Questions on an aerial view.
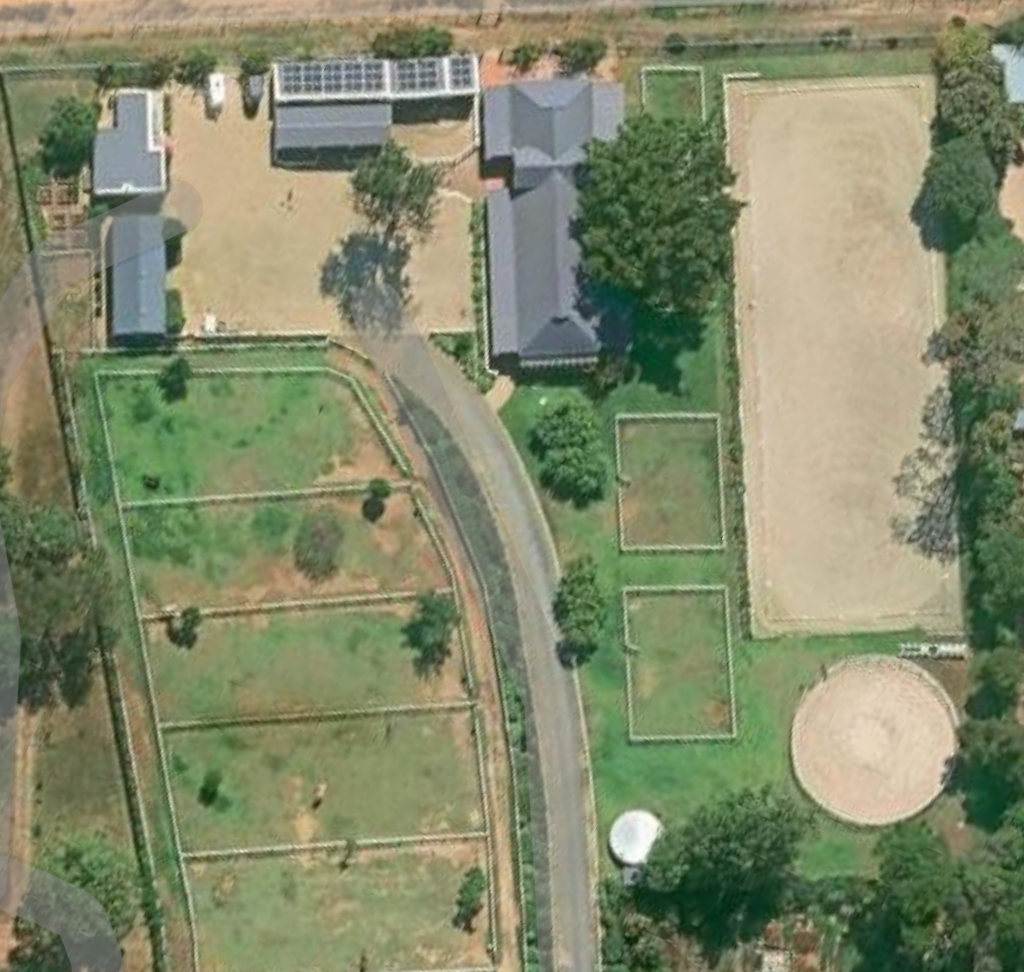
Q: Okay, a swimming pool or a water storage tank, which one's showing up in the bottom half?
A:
water storage tank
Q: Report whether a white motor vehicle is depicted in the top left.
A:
Yes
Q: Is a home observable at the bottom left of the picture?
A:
No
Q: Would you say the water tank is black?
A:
No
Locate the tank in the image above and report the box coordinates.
[609,811,663,867]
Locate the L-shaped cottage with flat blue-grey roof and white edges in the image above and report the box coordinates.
[94,89,168,205]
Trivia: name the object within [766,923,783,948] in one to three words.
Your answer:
shed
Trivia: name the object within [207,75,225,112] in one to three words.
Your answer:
vehicle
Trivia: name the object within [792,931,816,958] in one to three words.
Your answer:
shed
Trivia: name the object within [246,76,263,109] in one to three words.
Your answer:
car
